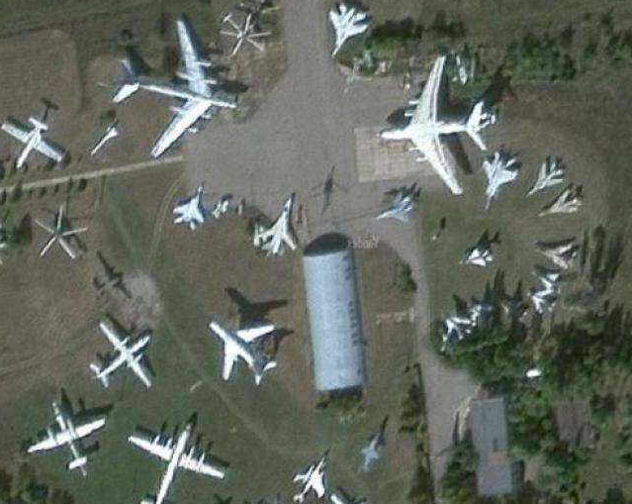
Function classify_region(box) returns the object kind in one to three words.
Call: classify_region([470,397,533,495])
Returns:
building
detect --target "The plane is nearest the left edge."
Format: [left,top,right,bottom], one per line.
[2,114,60,169]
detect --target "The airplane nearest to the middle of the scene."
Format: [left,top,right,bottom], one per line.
[256,195,295,257]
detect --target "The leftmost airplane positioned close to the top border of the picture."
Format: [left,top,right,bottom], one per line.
[113,22,236,159]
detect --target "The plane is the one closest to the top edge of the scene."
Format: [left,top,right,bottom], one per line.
[331,2,367,54]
